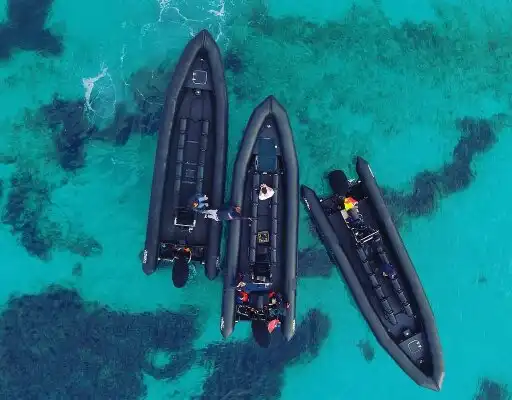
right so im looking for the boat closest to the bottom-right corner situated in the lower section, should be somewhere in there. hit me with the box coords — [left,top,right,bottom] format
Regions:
[303,159,448,392]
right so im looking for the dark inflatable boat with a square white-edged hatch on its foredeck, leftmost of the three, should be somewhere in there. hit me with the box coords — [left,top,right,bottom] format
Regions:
[142,28,232,286]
